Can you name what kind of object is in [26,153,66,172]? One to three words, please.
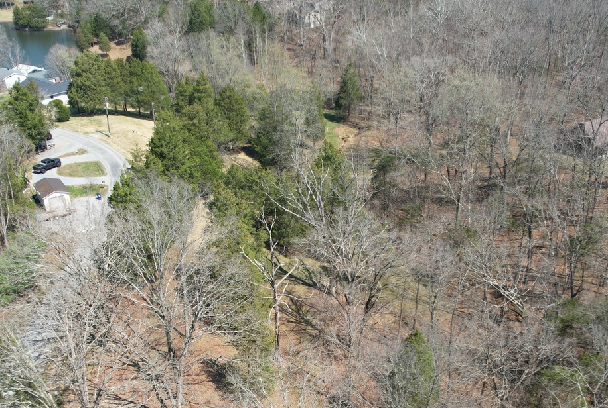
vehicle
